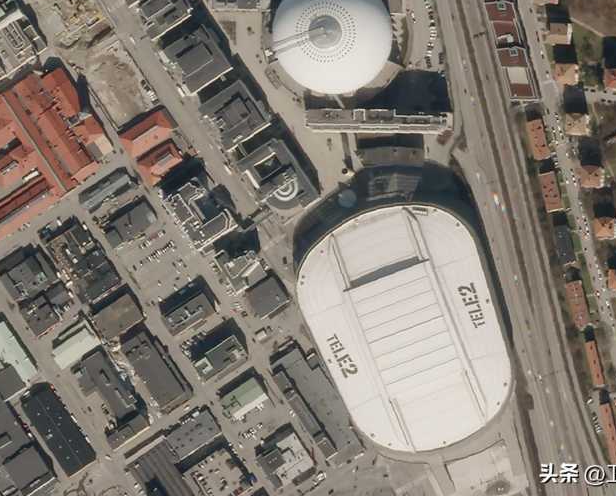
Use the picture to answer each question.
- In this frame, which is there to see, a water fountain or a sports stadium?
sports stadium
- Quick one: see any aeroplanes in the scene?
No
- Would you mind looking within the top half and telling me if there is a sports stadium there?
Yes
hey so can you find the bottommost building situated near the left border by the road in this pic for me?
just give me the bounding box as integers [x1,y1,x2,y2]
[4,447,57,496]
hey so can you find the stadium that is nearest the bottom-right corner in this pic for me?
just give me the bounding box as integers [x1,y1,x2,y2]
[297,206,513,453]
